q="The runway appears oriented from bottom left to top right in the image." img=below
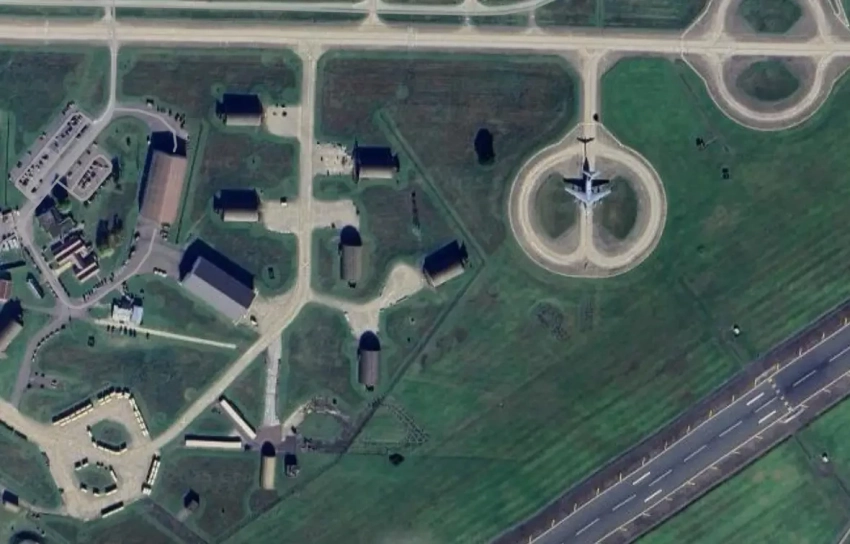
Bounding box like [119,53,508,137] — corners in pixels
[486,296,850,544]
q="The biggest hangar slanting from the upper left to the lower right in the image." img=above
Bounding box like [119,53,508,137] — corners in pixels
[182,259,254,321]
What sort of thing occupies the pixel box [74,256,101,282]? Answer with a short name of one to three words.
building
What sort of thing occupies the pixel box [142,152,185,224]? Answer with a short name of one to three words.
hangar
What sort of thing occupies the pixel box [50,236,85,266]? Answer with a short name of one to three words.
building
